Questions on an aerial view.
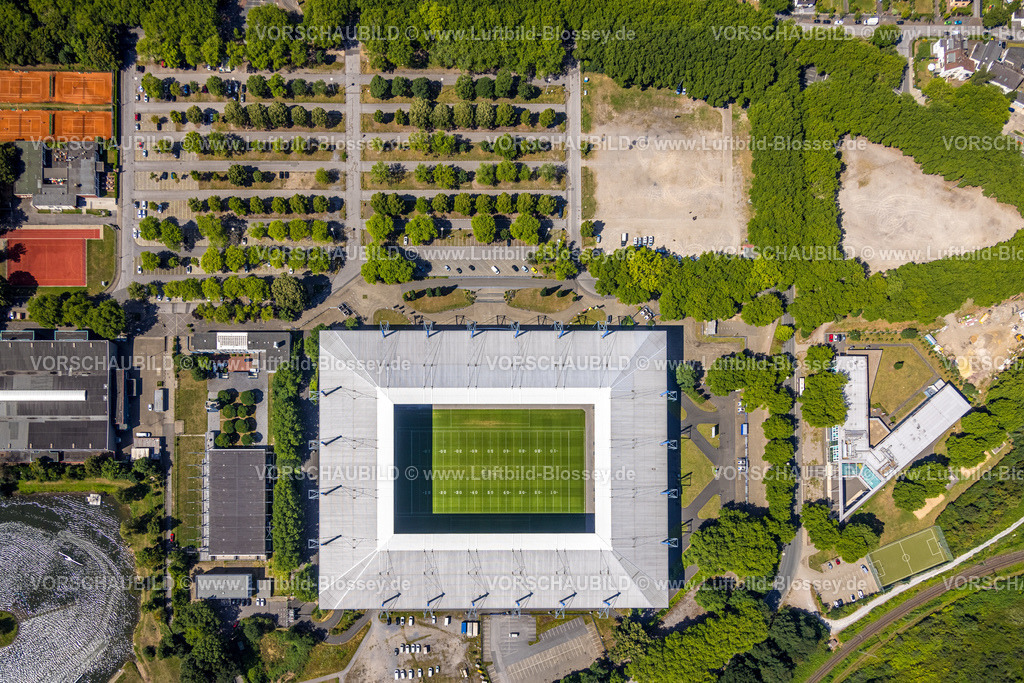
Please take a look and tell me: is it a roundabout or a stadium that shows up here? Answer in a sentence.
Looking from above, you can make out a stadium.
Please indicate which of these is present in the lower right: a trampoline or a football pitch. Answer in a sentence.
The one visible in the lower right is a football pitch.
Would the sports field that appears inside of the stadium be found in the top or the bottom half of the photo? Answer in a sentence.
Seen from above, the sports field that appears inside of the stadium lies in the bottom half of the view.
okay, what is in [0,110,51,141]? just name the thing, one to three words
tennis court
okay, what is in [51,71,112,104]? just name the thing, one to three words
tennis court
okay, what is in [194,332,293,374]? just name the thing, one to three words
building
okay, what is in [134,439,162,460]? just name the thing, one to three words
shed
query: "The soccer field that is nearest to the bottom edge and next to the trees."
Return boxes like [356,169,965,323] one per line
[870,526,952,583]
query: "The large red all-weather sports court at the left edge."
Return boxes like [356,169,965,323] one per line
[6,238,87,287]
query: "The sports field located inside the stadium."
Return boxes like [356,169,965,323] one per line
[394,404,595,534]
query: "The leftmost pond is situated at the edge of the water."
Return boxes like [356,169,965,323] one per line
[0,492,141,683]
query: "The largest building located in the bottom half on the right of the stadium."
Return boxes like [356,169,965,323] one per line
[829,356,970,523]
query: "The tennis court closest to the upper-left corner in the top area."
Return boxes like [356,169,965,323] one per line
[0,71,51,103]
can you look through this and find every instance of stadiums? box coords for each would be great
[311,325,675,616]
